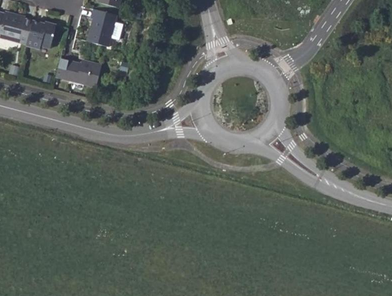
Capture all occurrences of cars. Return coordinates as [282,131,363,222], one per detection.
[149,123,160,128]
[81,10,92,15]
